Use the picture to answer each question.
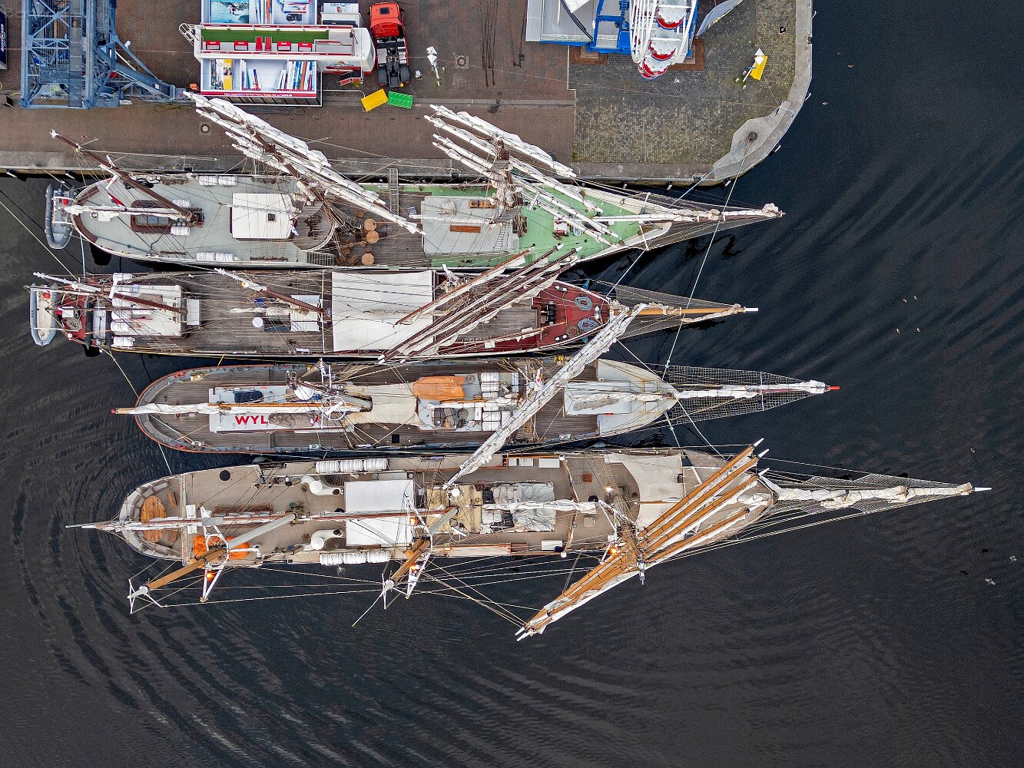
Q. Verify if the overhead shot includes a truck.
Yes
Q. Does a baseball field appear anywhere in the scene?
No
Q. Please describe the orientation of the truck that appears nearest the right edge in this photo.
from top to bottom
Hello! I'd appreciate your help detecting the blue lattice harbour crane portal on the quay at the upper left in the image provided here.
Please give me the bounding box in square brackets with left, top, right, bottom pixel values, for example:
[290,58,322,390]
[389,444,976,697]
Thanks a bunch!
[16,0,191,114]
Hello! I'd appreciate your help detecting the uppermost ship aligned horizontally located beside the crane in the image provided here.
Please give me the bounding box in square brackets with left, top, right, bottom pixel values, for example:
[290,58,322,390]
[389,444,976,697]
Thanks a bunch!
[51,90,784,272]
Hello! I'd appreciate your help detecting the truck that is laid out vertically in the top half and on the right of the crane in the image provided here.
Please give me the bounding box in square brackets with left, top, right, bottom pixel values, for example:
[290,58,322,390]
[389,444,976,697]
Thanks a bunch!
[367,3,410,88]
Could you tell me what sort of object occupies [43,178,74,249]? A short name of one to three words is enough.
boat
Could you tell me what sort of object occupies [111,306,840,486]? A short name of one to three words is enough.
ship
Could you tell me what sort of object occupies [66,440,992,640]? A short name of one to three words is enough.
ship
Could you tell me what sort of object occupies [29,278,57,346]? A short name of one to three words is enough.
boat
